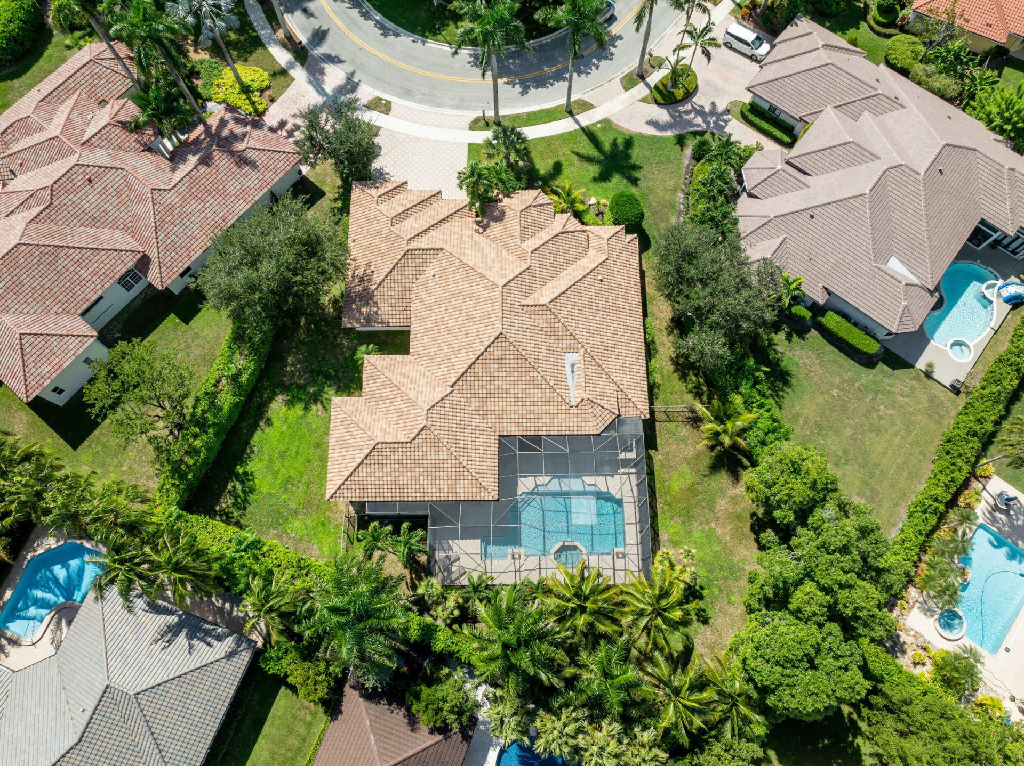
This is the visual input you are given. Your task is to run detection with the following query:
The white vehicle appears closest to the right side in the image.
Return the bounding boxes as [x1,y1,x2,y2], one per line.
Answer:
[720,19,773,61]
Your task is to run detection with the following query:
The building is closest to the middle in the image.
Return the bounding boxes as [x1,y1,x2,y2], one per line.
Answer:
[325,178,650,502]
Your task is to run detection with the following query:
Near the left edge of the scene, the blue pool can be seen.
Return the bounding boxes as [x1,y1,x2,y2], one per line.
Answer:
[0,538,120,643]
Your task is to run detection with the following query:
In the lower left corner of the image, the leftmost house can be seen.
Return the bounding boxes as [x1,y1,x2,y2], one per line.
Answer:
[0,573,258,766]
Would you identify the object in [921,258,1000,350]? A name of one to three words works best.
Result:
swimming pool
